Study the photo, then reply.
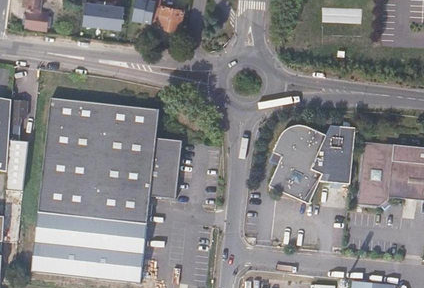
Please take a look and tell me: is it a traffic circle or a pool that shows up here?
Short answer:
traffic circle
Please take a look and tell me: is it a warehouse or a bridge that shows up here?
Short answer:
warehouse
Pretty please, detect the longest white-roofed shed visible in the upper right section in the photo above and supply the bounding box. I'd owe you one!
[322,7,364,25]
